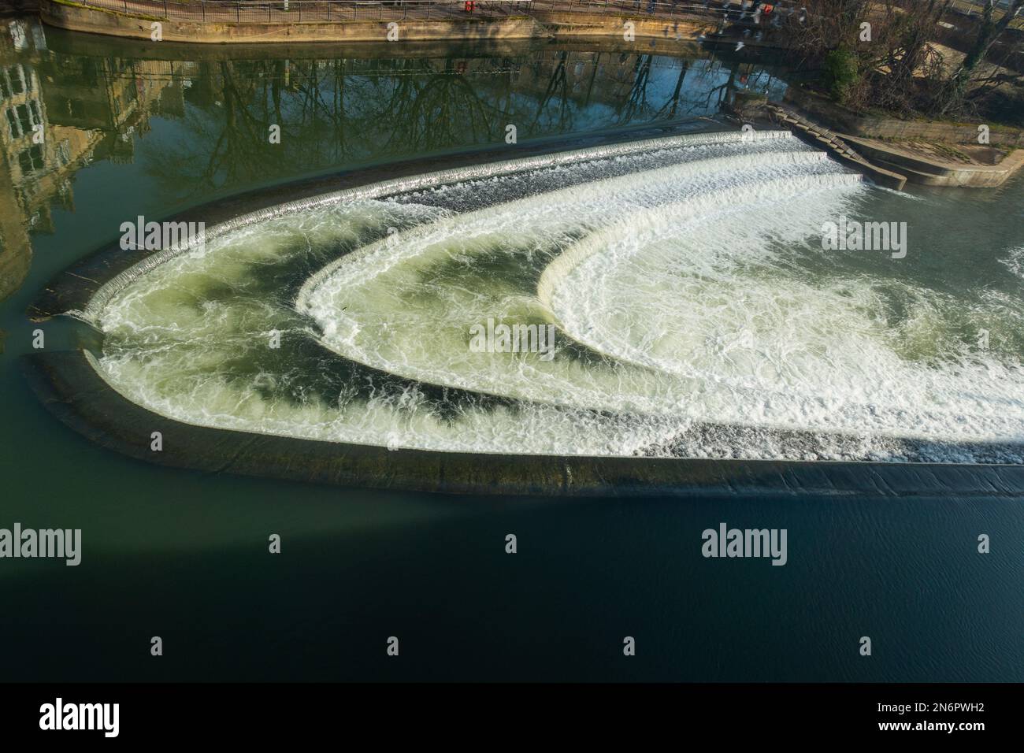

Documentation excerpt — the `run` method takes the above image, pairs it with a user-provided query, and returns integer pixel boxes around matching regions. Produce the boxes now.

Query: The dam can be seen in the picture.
[21,114,1024,498]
